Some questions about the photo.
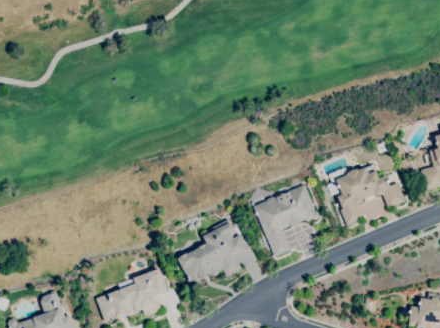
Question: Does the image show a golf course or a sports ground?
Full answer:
This looks like a golf course.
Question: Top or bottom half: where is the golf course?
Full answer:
You can find the golf course in the top half.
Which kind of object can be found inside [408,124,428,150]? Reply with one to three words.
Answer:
swimming pool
